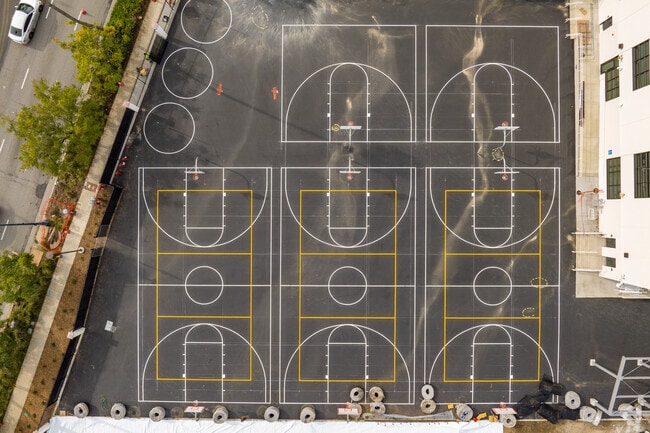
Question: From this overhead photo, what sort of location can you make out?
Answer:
sports ground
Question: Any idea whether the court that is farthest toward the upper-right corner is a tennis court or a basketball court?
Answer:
basketball court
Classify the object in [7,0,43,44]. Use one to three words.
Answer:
car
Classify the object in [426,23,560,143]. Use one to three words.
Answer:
basketball court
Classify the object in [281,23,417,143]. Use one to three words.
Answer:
basketball court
